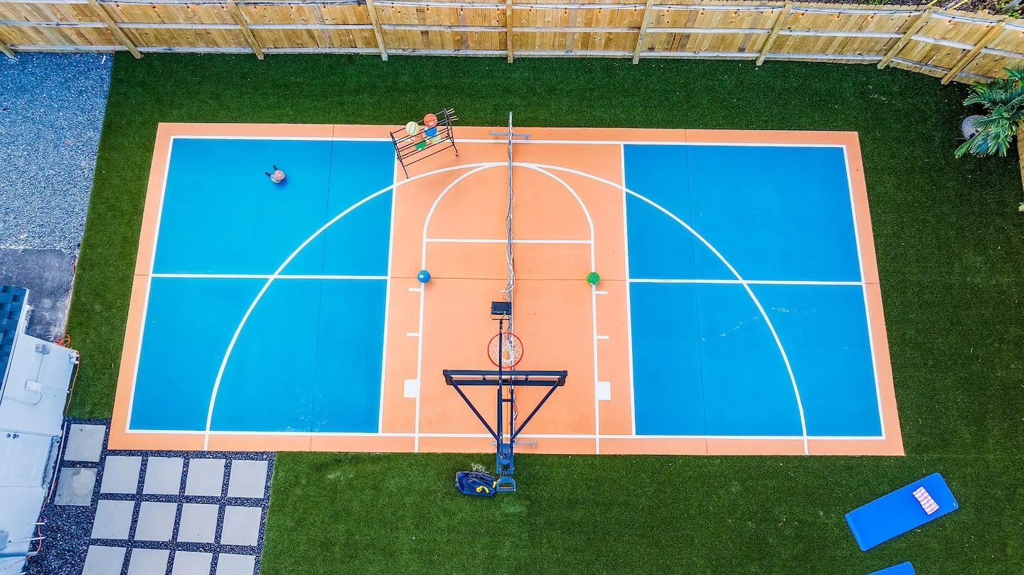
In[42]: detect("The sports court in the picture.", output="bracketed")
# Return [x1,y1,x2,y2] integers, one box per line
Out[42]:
[107,123,905,456]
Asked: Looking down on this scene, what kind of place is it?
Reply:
sports ground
